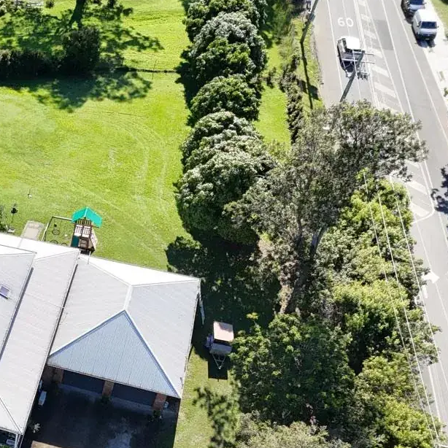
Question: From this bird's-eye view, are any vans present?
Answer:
Yes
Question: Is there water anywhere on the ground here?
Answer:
No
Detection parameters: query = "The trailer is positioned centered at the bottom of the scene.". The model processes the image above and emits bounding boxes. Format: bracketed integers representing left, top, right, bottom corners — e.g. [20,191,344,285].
[199,315,237,372]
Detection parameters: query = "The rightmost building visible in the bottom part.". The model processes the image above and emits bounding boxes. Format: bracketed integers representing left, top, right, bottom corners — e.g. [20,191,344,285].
[47,253,199,414]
